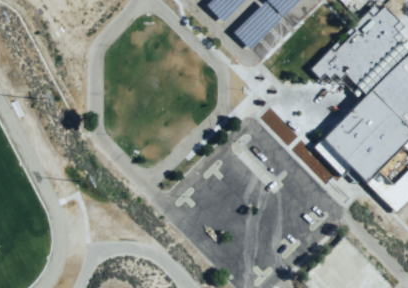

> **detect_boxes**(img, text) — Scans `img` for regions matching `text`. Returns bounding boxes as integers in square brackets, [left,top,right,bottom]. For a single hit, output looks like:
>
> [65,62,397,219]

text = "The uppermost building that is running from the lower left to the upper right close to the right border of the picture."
[310,7,402,85]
